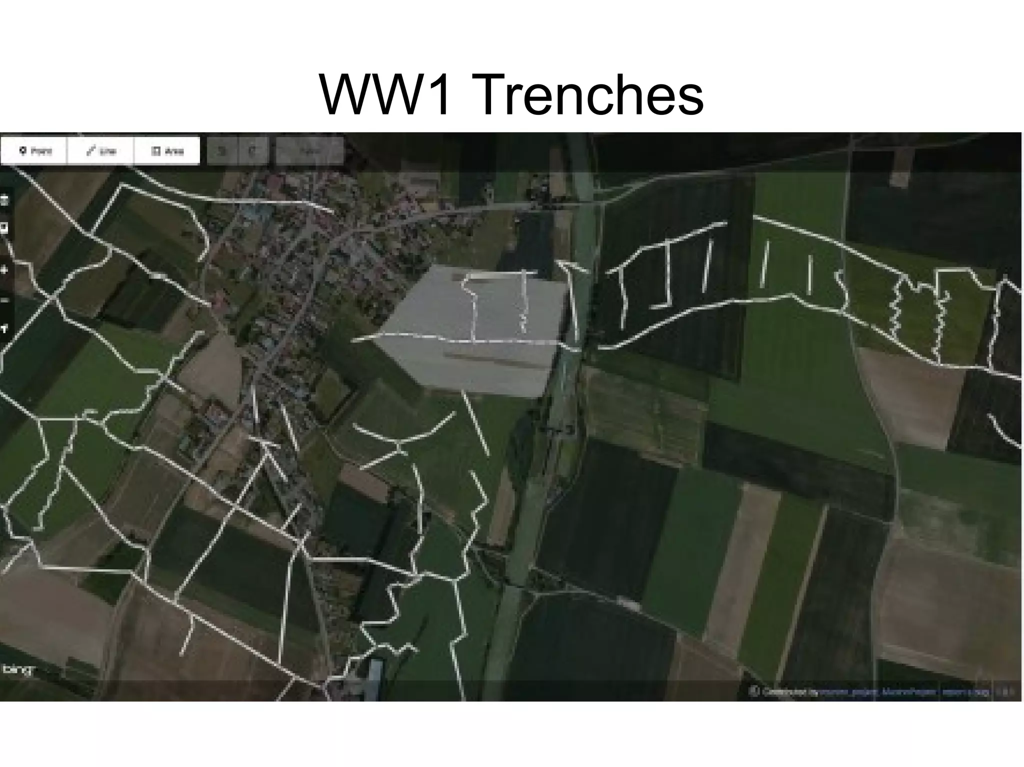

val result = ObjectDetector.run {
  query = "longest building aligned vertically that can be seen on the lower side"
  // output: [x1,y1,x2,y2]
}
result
[366,656,380,696]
